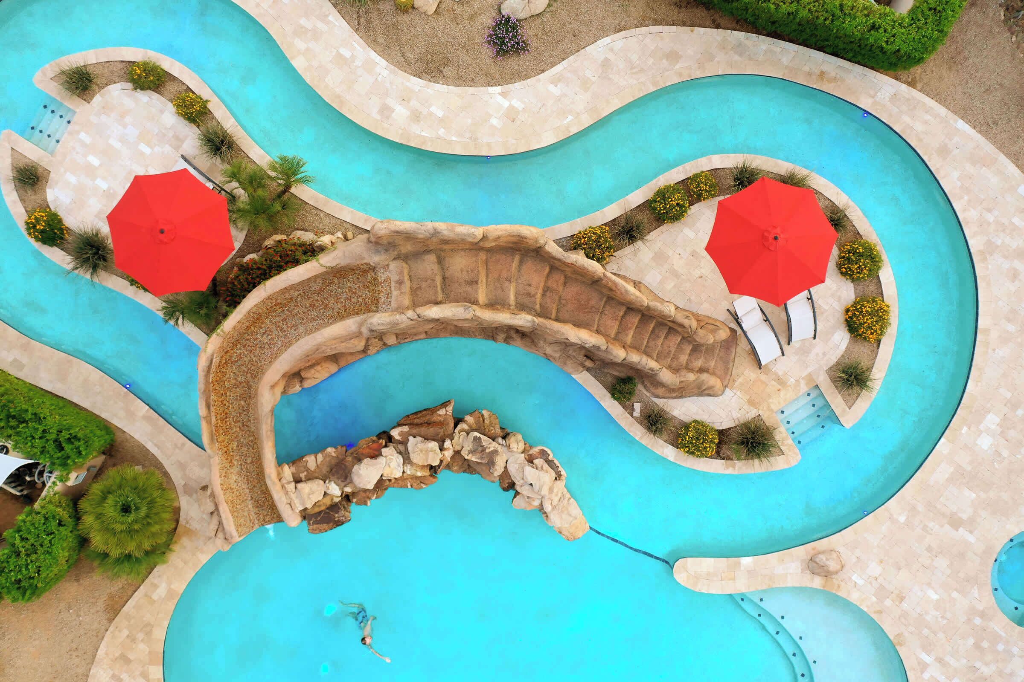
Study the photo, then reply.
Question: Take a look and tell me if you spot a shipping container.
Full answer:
No, I can't see a single shipping container in this photo.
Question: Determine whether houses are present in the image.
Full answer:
No, I can see no house in this picture.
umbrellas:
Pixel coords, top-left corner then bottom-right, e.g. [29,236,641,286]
[106,168,236,297]
[705,175,837,308]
